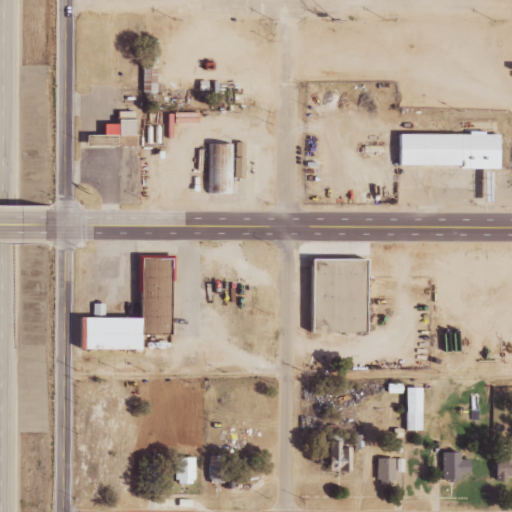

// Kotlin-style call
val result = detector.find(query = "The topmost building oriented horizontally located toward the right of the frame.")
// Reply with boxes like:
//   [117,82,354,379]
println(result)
[399,131,502,169]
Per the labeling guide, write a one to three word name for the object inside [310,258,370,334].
building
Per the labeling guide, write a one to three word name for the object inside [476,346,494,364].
work vehicle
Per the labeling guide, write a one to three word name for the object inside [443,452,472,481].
house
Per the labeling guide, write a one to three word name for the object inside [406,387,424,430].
barn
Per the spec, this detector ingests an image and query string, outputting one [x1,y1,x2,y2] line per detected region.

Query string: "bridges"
[0,206,46,244]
